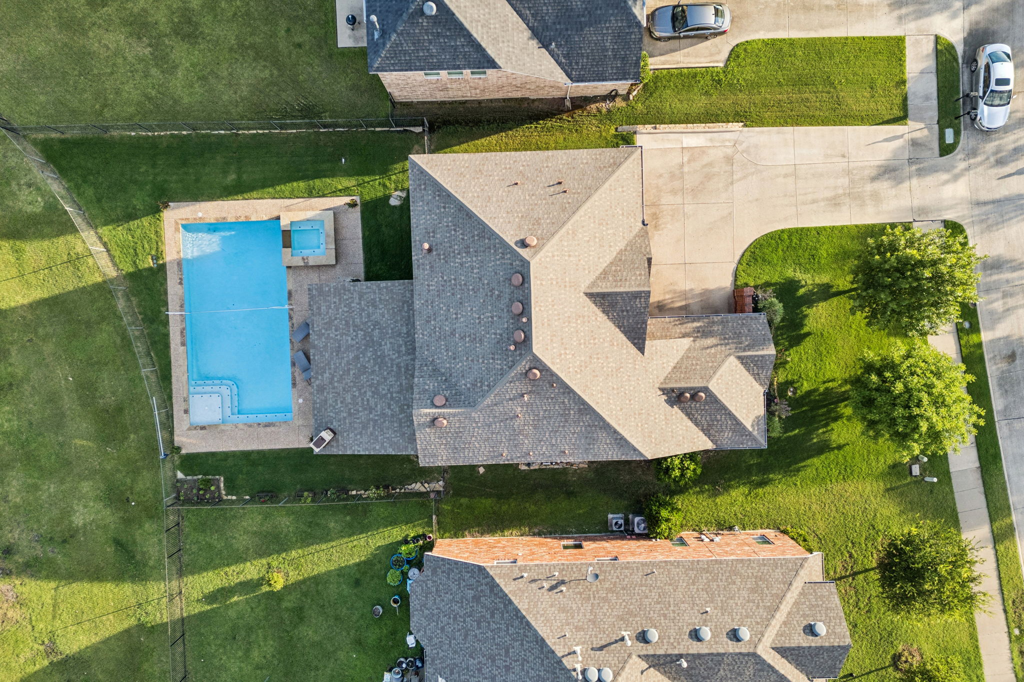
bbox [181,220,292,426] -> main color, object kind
blue swimming pool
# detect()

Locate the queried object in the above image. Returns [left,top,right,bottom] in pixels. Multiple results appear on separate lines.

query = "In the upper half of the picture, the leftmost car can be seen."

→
[647,0,734,45]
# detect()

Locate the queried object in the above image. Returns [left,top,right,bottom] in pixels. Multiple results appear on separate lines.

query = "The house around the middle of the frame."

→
[407,142,776,466]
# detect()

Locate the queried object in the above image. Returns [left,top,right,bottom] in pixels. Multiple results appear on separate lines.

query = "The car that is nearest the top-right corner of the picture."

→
[969,42,1019,132]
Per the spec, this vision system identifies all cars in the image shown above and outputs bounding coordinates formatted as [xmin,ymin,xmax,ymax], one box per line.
[969,42,1019,132]
[647,0,734,45]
